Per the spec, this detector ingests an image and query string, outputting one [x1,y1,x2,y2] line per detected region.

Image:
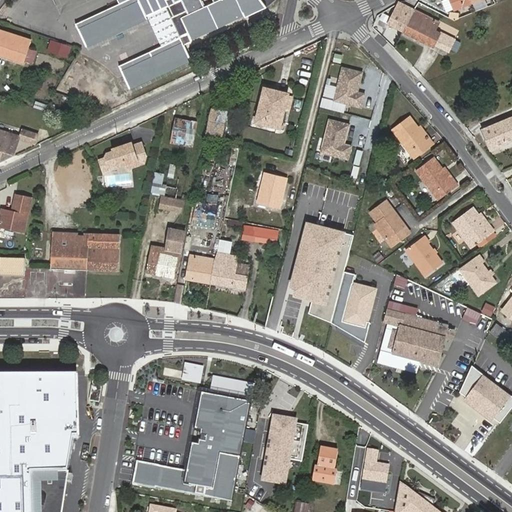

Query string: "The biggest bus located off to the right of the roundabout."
[272,342,316,368]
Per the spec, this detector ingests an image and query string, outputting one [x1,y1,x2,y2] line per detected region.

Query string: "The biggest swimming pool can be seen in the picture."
[105,173,134,188]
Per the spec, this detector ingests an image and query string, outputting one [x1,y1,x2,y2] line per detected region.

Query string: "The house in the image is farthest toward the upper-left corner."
[0,29,37,64]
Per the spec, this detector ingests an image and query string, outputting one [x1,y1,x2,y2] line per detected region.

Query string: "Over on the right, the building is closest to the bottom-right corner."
[394,482,440,512]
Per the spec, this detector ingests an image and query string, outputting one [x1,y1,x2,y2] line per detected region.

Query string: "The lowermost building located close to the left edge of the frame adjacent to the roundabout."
[0,371,78,512]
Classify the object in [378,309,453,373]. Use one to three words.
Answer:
building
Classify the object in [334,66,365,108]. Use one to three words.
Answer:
house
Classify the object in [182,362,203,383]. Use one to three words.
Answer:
shed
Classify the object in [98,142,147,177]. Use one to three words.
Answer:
house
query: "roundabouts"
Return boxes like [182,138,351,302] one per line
[78,302,152,380]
